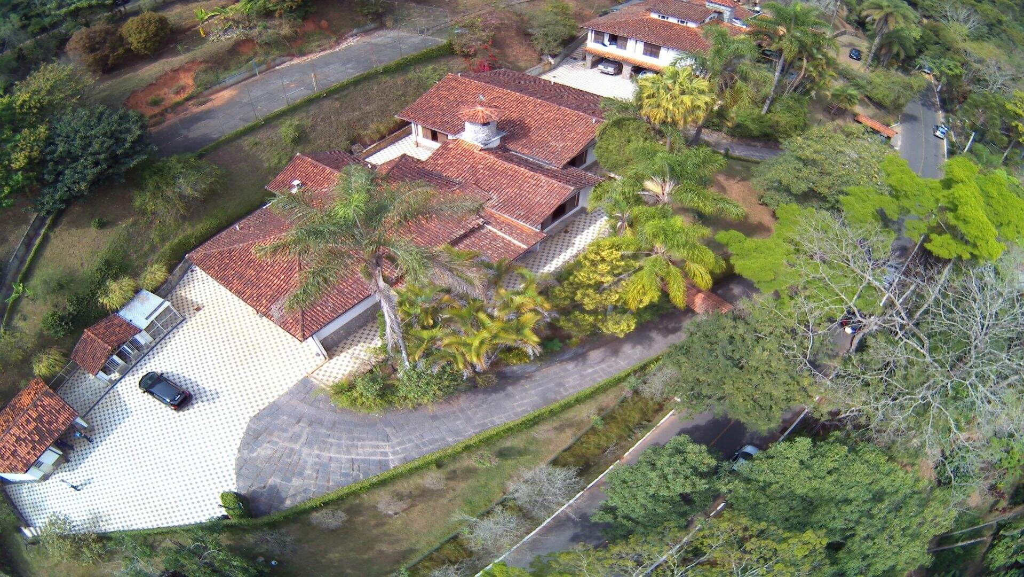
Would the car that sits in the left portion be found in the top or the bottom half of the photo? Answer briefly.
bottom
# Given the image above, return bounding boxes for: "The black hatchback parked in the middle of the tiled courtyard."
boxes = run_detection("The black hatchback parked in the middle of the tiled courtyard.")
[134,373,186,410]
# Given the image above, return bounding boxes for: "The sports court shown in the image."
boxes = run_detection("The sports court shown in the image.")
[125,26,450,162]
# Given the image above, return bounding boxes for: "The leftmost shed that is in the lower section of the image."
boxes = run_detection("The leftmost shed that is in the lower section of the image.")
[0,378,93,476]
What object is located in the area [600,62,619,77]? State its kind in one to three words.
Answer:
car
